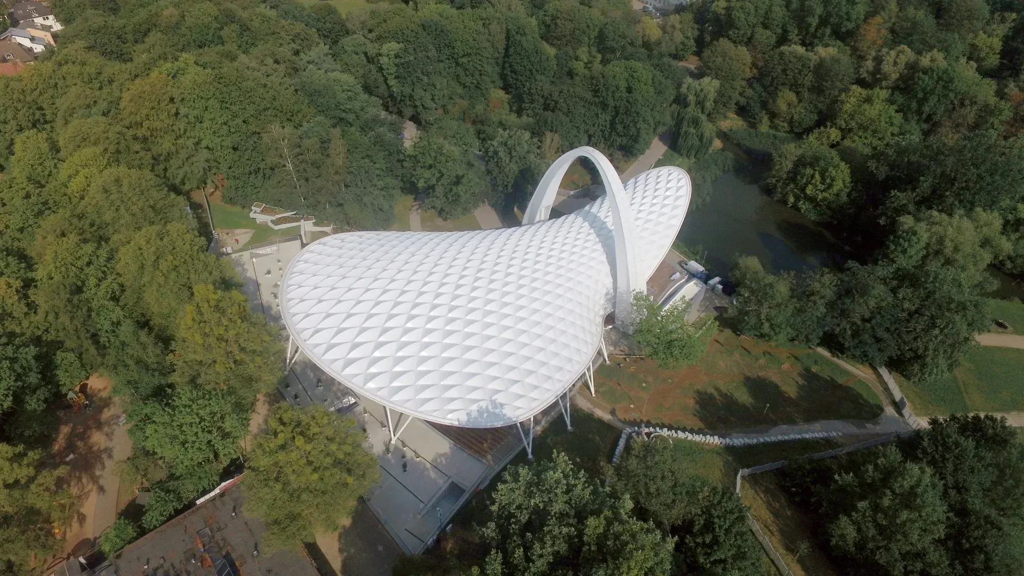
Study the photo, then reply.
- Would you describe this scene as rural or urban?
rural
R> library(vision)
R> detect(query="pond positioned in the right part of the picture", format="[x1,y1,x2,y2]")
[679,125,926,296]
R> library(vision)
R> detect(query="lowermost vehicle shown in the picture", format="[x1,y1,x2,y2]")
[681,261,708,279]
